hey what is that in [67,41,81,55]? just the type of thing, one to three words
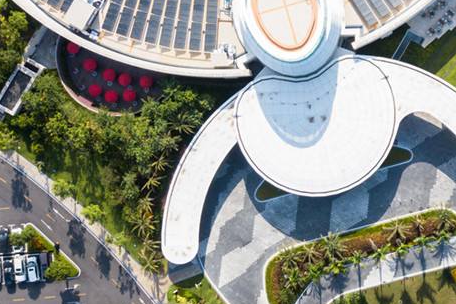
umbrella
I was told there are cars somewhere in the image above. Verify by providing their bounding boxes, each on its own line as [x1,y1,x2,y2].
[0,229,13,254]
[13,256,28,282]
[12,227,26,253]
[27,256,40,281]
[37,250,50,276]
[2,259,15,284]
